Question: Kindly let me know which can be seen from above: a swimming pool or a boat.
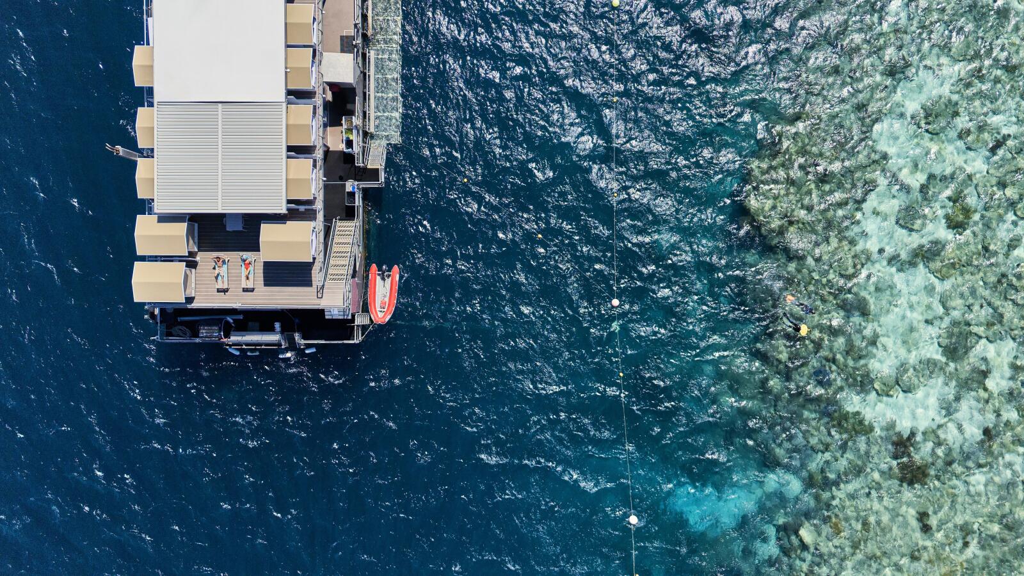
boat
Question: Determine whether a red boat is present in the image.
Yes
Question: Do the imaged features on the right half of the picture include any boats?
No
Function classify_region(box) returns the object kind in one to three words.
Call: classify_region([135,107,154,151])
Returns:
tent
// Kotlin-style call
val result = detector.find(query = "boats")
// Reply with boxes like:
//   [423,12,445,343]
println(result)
[368,262,400,324]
